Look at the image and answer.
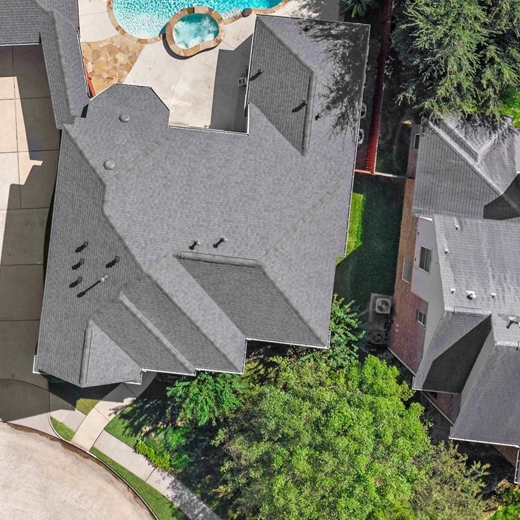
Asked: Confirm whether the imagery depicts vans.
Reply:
No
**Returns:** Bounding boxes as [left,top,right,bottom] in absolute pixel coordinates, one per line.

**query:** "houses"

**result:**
[387,115,520,482]
[33,13,373,388]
